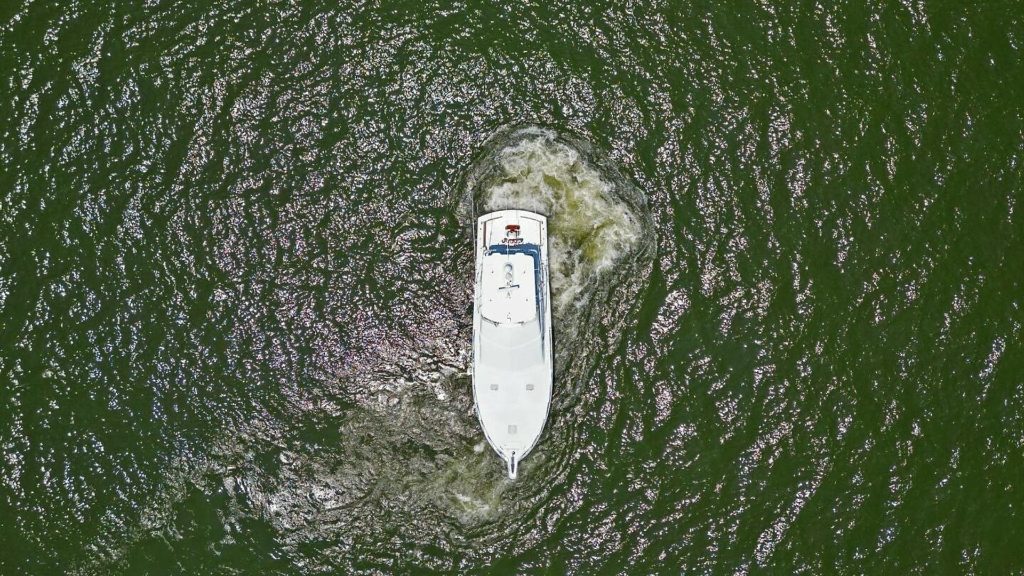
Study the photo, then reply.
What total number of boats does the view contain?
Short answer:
1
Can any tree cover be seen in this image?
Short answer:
No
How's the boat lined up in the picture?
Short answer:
from top to bottom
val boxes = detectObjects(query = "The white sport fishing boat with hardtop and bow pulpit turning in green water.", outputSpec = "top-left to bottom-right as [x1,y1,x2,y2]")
[472,193,554,482]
